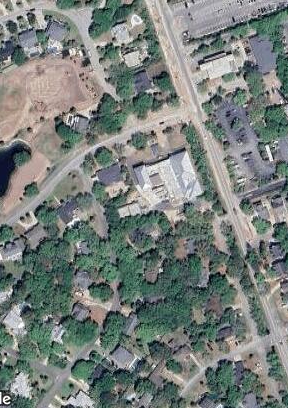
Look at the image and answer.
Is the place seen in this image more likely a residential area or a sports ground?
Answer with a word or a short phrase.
residential area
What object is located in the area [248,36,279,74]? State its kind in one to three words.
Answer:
building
